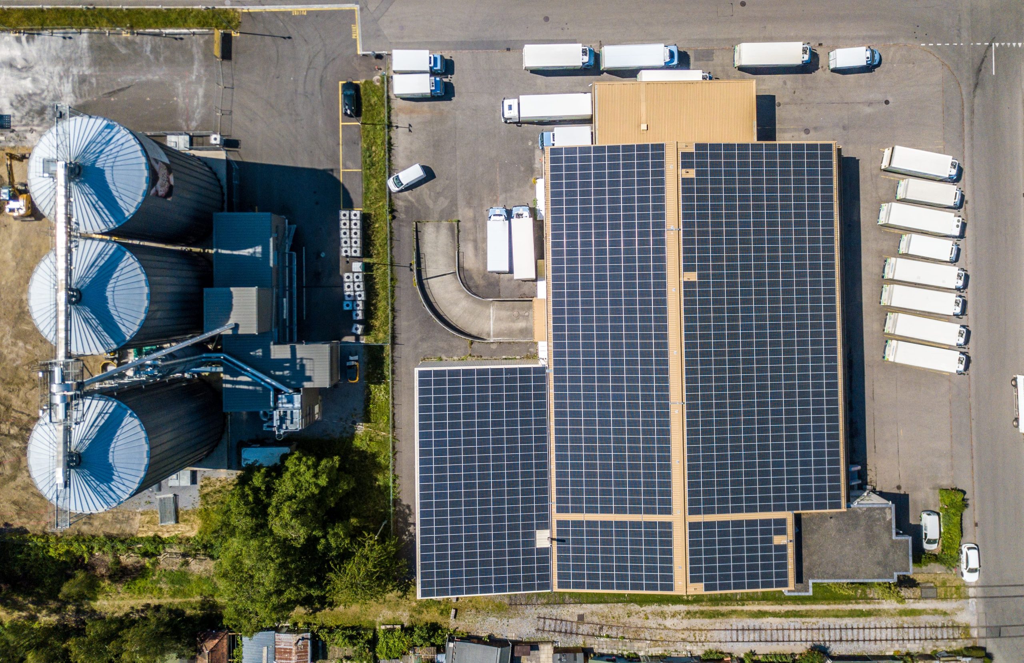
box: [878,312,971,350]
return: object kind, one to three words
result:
truck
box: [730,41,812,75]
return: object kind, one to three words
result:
truck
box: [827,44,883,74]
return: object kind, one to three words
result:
van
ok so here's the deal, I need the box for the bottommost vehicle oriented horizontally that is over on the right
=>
[878,339,970,377]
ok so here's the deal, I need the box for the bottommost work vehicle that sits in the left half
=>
[346,354,359,382]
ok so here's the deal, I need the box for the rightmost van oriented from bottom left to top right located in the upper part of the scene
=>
[388,160,426,194]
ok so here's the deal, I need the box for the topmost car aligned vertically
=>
[340,81,358,120]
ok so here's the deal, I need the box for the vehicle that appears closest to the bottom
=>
[959,543,980,579]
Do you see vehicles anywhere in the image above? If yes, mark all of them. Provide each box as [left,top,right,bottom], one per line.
[484,207,511,272]
[877,258,968,294]
[500,93,592,126]
[388,160,426,194]
[634,70,713,80]
[878,312,971,350]
[520,43,594,76]
[392,73,447,101]
[346,354,359,382]
[892,234,960,267]
[878,339,970,377]
[597,43,679,77]
[827,44,883,74]
[917,509,941,547]
[890,178,964,212]
[392,49,446,78]
[507,205,535,280]
[874,145,962,185]
[959,543,980,579]
[537,126,591,154]
[730,41,812,75]
[1010,375,1024,432]
[340,81,358,120]
[875,285,966,320]
[871,202,966,242]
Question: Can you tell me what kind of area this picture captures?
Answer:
industrial area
